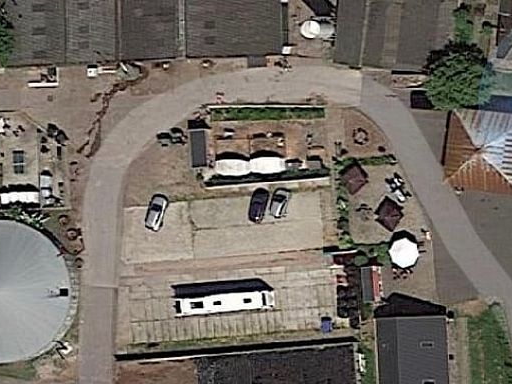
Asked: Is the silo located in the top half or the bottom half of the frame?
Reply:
top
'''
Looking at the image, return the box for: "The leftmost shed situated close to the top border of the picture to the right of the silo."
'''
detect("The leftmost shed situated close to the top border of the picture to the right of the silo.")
[335,0,465,72]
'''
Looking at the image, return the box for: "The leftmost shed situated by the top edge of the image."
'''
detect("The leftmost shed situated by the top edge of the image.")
[2,0,116,67]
